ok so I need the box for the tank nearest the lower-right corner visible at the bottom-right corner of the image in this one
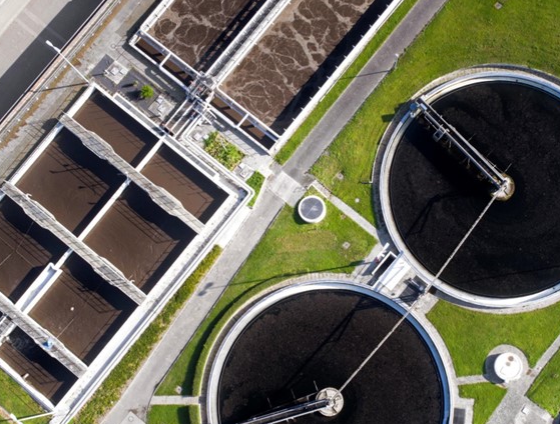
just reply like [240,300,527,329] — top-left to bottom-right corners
[493,352,523,381]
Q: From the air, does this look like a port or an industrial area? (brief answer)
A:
industrial area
